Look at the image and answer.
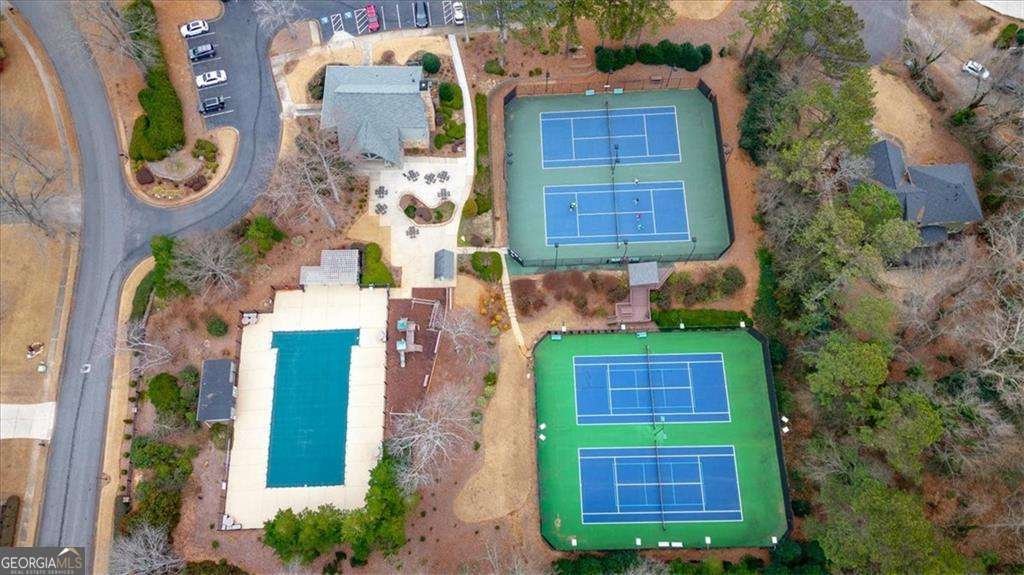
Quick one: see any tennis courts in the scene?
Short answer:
Yes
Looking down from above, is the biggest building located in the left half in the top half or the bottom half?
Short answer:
top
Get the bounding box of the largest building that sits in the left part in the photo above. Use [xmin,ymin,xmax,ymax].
[321,66,429,175]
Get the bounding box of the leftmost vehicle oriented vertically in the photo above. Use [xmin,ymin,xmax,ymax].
[366,5,379,33]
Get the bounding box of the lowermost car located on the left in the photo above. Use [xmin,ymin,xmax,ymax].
[199,96,227,114]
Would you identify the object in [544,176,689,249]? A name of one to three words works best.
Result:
tennis court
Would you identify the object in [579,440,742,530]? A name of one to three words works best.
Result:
tennis court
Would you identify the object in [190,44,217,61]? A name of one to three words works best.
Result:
car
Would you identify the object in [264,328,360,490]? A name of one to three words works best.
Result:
swimming pool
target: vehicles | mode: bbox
[960,59,991,80]
[198,72,226,87]
[415,1,428,27]
[199,96,227,114]
[190,44,217,61]
[452,2,465,26]
[182,22,208,37]
[366,5,379,33]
